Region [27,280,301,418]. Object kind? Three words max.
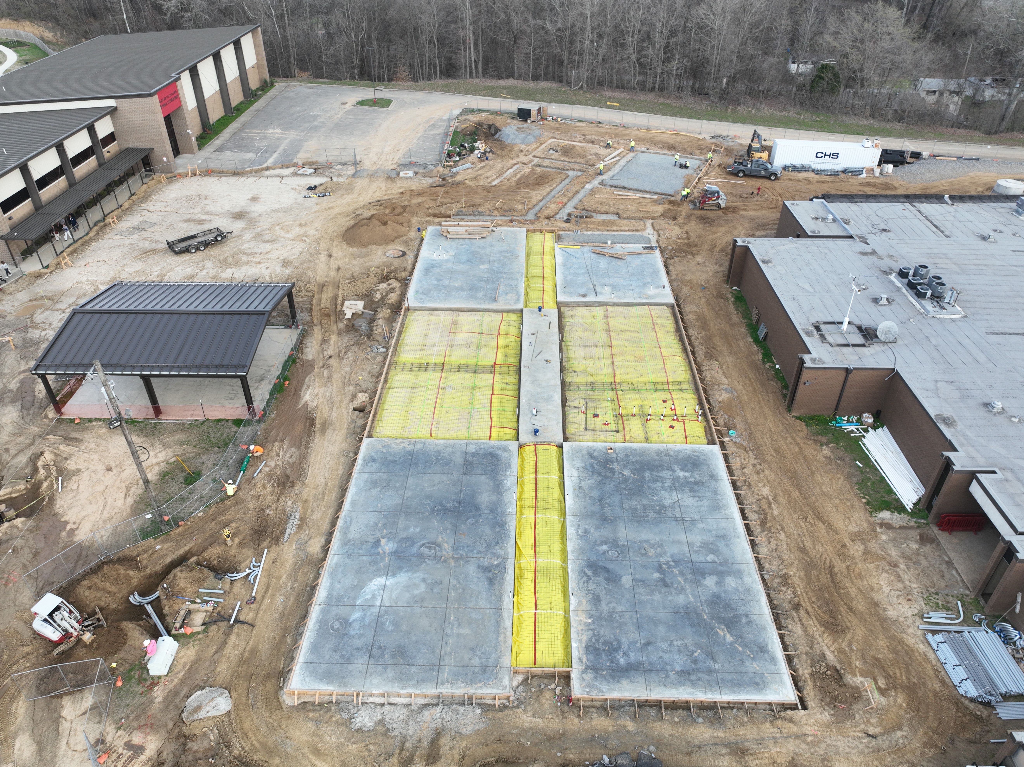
building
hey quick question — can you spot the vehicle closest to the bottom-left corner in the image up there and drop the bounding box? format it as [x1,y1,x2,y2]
[21,596,106,662]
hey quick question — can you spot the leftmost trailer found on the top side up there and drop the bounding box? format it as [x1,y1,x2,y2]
[162,225,231,248]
